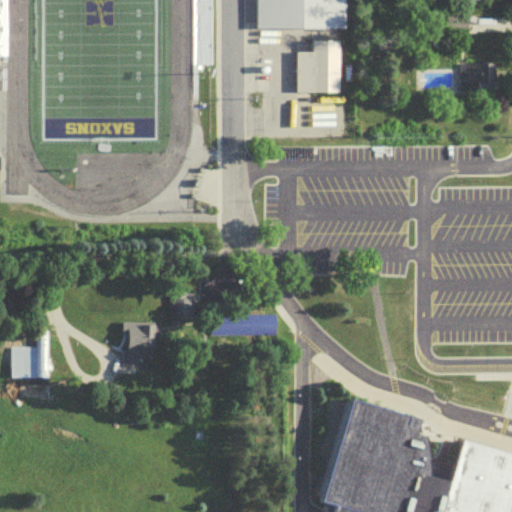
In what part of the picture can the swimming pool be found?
top right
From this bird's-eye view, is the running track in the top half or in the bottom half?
top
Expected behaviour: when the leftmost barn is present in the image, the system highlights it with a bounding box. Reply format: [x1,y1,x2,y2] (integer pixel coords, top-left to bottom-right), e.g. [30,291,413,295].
[11,331,54,380]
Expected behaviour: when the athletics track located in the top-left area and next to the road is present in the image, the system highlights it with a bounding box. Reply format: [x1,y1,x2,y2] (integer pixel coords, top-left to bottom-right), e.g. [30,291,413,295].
[7,0,192,214]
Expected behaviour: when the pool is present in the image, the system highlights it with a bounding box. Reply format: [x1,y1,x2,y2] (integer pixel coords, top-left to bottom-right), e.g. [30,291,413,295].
[416,69,454,90]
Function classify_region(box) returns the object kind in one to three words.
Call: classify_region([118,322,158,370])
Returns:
house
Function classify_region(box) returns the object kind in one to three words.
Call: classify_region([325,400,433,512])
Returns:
building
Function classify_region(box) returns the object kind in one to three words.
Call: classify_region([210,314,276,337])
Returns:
shed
